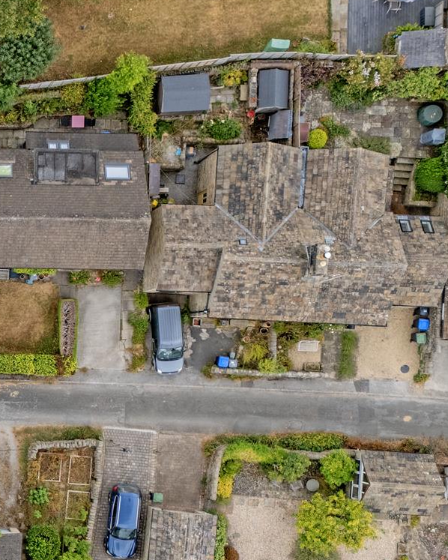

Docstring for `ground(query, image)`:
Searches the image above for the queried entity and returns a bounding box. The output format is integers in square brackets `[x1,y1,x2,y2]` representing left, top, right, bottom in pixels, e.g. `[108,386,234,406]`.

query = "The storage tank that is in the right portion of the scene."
[408,102,444,131]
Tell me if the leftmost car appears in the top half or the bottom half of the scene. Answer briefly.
bottom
